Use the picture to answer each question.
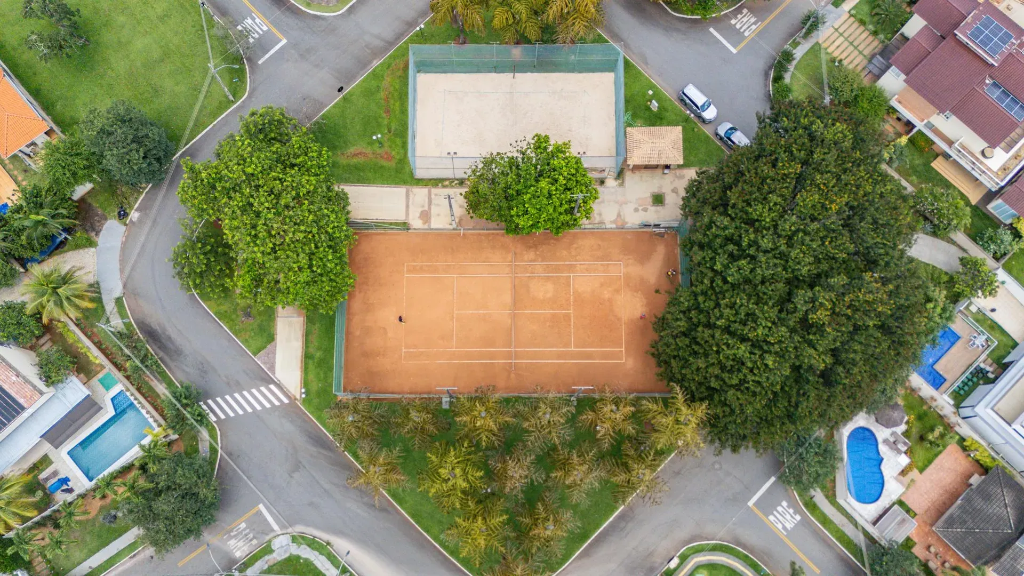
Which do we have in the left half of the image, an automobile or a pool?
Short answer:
pool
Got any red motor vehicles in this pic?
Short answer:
No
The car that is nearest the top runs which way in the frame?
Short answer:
diagonally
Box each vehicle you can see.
[678,85,718,124]
[716,122,751,157]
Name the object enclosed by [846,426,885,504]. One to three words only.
swimming pool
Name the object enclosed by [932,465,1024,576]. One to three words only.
house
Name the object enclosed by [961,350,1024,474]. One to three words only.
house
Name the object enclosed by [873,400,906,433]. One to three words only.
umbrella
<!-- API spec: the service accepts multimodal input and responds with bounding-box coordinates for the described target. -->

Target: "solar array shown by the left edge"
[0,386,27,432]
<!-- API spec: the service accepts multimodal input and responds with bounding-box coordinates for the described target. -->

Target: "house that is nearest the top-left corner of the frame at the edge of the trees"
[0,71,53,161]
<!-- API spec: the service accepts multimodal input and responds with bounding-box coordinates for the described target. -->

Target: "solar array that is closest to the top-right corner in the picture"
[968,14,1015,57]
